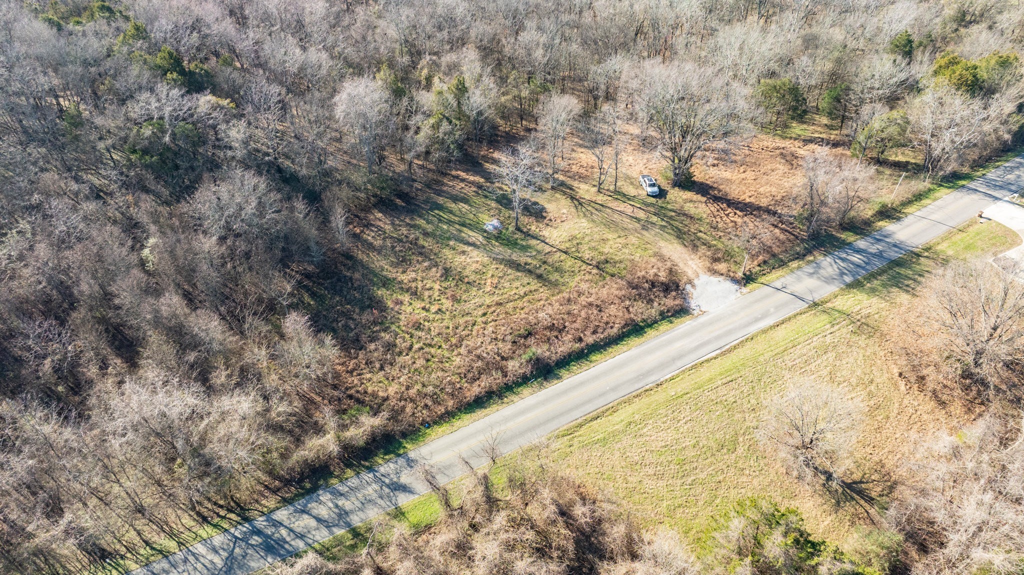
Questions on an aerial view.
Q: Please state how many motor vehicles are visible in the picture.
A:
1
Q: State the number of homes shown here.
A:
zero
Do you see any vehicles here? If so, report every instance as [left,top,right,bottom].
[638,174,660,197]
